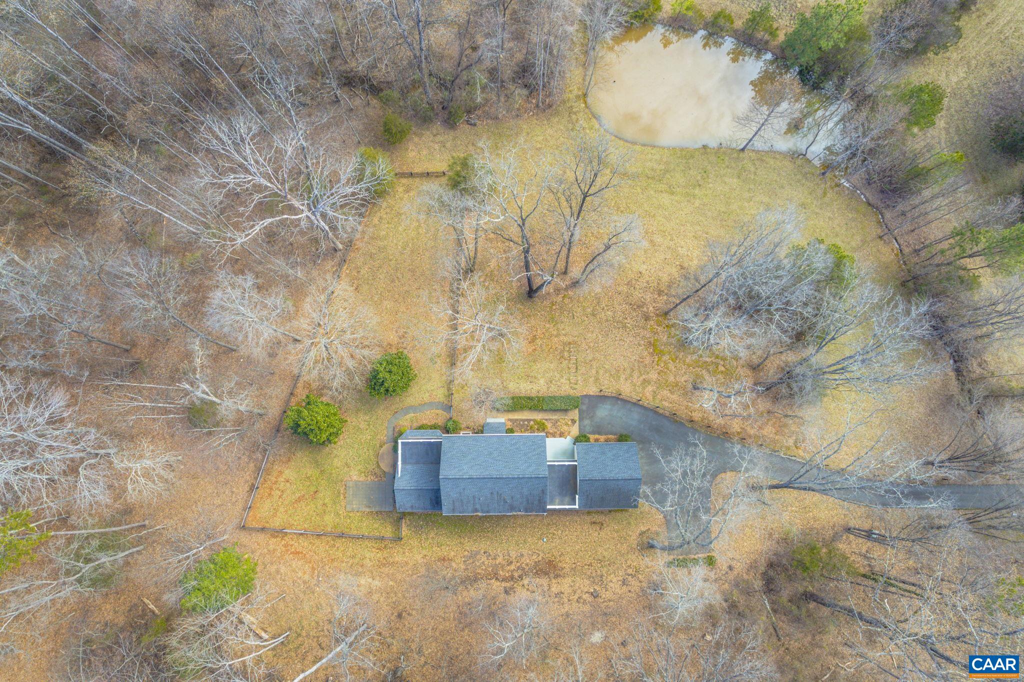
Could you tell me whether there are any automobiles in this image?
No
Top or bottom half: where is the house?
bottom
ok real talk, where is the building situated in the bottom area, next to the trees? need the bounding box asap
[395,418,643,516]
